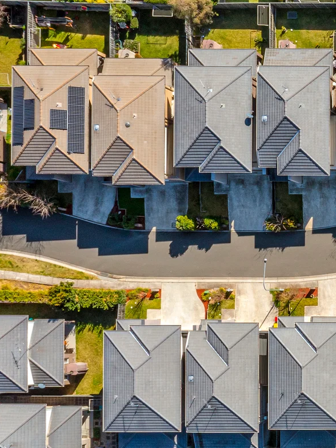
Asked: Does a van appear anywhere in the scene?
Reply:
No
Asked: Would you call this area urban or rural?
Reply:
urban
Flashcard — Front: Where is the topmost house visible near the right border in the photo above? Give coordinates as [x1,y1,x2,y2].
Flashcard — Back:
[256,47,336,183]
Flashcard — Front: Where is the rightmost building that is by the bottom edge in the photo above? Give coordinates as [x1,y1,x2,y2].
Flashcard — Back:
[267,312,336,448]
